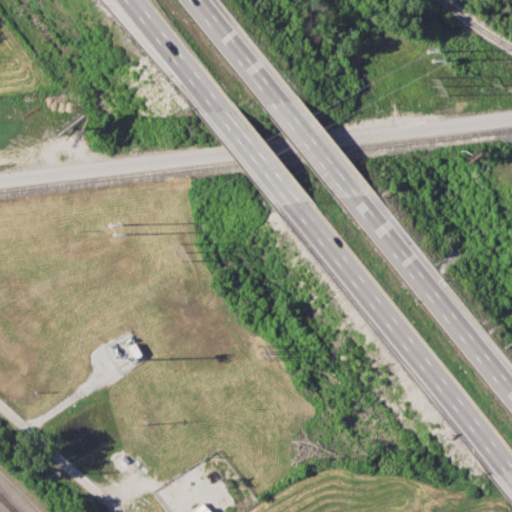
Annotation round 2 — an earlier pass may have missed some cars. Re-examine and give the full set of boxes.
[166,43,176,54]
[332,238,342,248]
[192,0,200,7]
